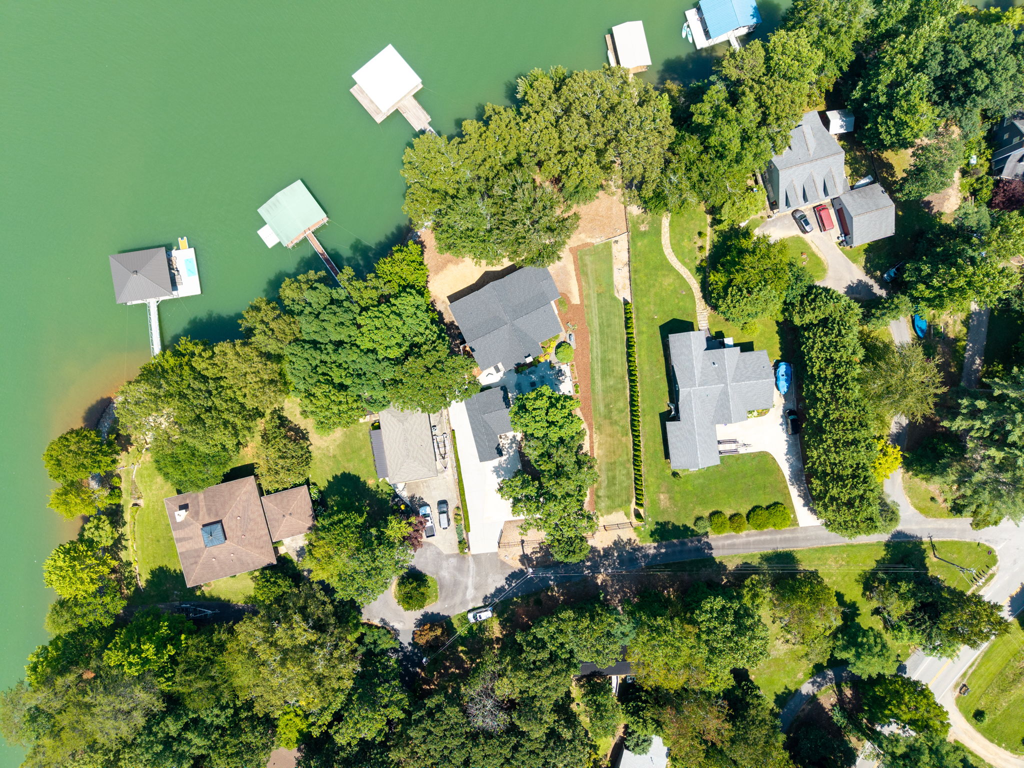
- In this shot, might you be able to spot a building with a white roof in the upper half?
Yes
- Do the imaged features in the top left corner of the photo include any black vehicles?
No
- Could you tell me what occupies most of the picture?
trees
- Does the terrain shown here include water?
Yes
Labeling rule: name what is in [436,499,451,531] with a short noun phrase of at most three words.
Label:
car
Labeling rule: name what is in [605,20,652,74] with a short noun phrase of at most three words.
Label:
building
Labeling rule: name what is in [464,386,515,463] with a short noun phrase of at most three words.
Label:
building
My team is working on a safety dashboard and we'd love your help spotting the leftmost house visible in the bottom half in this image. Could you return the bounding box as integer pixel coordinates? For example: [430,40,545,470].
[164,475,279,588]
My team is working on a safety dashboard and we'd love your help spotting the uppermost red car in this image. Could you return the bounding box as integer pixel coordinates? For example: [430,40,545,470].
[814,203,835,233]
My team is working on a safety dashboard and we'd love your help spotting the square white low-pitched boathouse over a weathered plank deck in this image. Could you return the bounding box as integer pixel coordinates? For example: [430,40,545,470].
[349,44,423,124]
